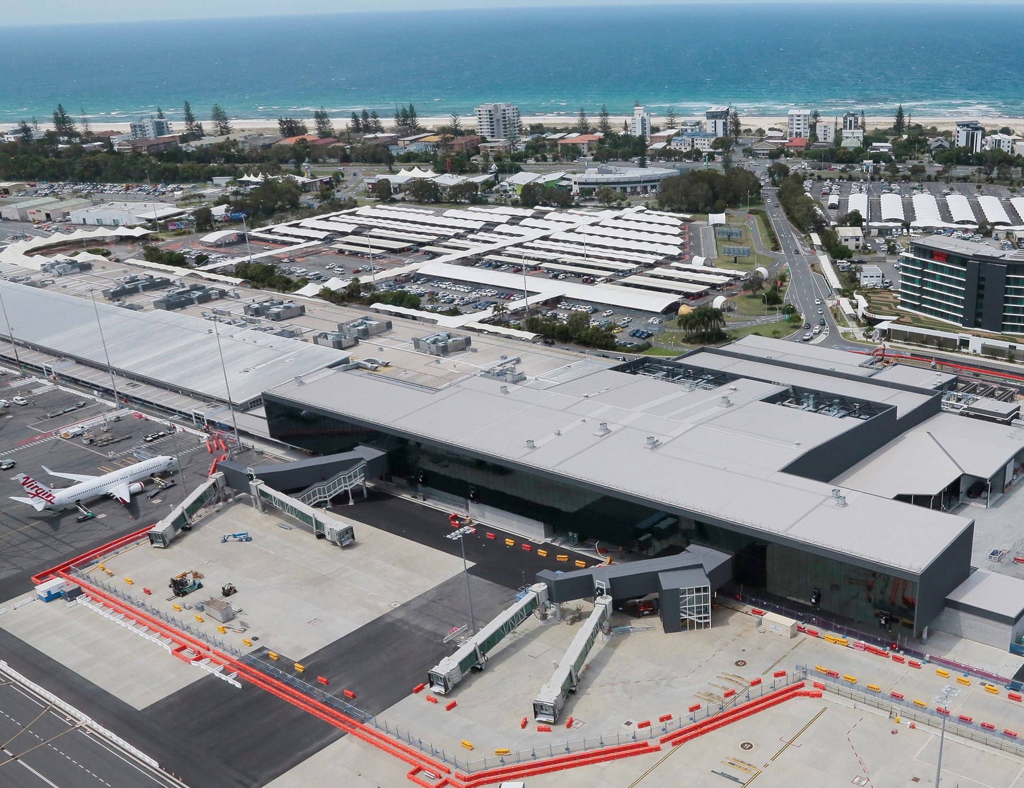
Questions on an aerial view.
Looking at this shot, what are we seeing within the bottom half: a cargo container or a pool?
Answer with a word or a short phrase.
cargo container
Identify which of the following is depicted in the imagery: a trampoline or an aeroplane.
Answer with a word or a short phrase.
aeroplane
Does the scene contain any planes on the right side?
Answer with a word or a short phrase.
No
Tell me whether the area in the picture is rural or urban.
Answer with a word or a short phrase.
urban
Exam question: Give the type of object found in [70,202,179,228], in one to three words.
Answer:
hangar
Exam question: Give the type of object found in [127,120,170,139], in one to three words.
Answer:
building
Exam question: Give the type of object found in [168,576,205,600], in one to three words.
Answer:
work vehicle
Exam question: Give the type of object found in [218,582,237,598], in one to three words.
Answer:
work vehicle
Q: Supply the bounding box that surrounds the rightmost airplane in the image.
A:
[16,458,177,511]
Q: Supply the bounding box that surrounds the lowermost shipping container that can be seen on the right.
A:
[762,614,797,639]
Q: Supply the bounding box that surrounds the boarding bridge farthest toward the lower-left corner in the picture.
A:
[146,472,231,546]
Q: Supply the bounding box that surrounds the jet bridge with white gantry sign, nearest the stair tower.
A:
[532,582,616,721]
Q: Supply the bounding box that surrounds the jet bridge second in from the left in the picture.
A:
[247,469,358,546]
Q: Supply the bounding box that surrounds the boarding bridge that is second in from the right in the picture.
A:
[426,582,551,693]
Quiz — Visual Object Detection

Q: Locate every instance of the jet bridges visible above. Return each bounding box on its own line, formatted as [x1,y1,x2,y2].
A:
[247,469,358,546]
[146,472,231,546]
[426,582,551,693]
[532,582,616,721]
